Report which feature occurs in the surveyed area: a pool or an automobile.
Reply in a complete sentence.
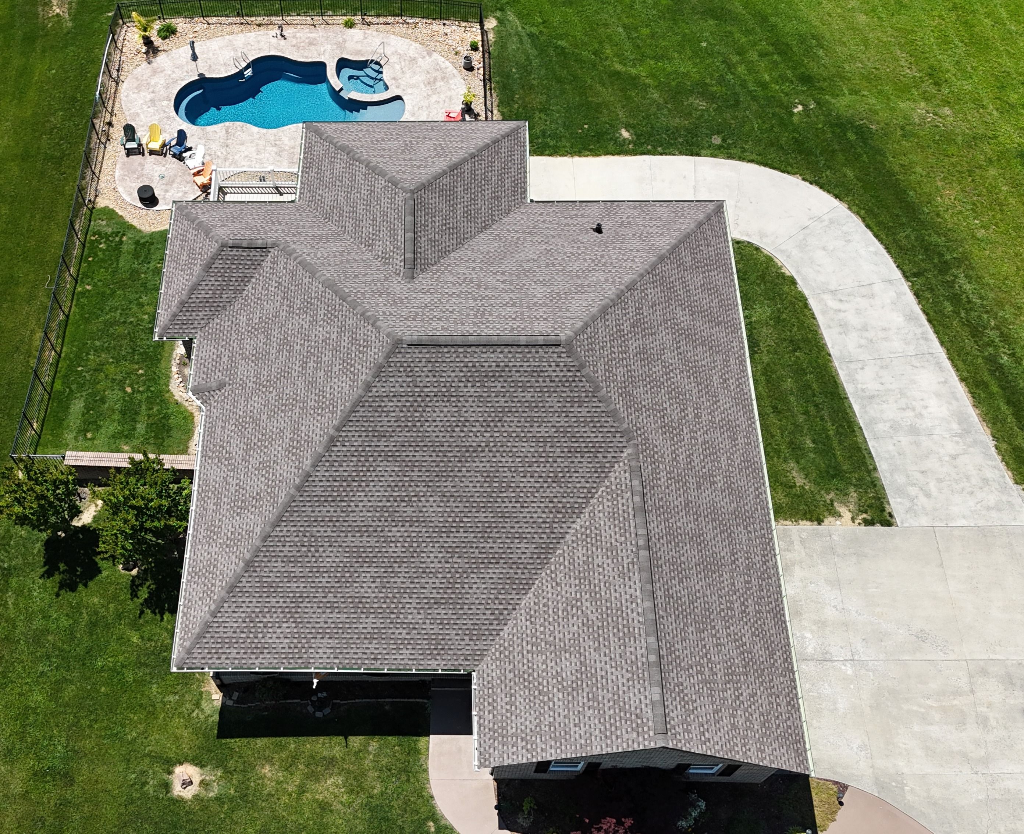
This aerial view contains a pool.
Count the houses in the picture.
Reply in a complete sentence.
In total, 1 house can be seen.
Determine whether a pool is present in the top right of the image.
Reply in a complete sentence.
No, no pool appears in the top right of the image.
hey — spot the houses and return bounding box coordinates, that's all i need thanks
[152,119,815,783]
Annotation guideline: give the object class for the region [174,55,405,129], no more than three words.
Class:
swimming pool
